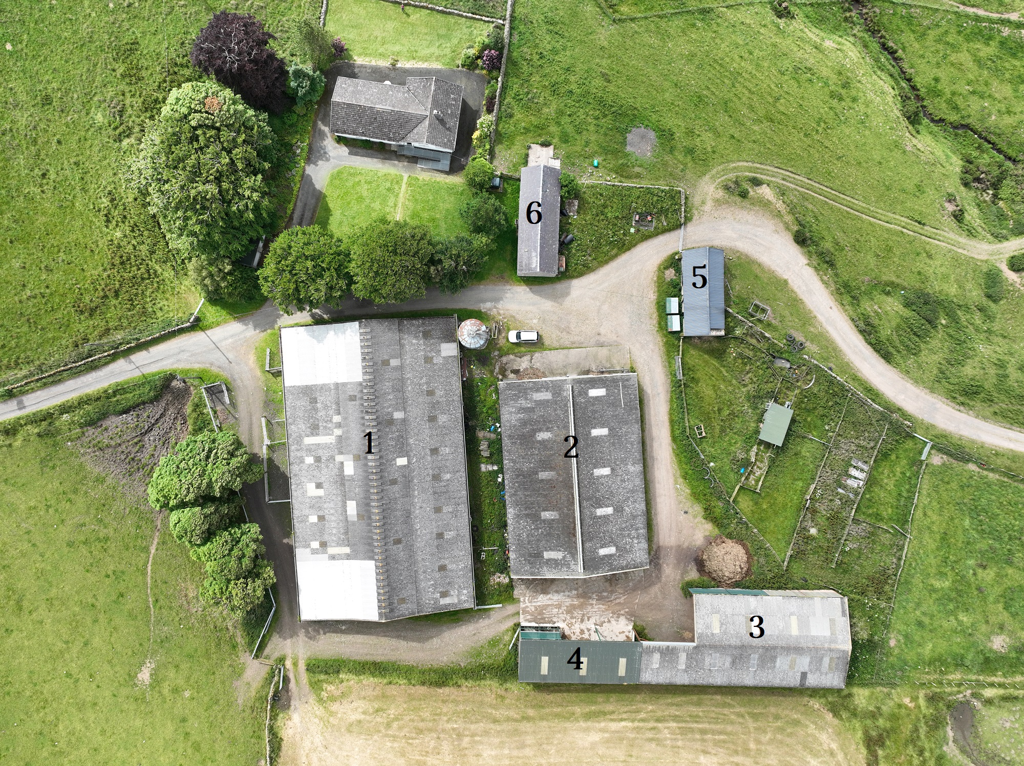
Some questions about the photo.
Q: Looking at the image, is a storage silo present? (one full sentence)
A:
Yes, there's a storage silo here.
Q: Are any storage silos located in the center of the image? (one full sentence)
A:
Yes, in the center of the image there is a storage silo.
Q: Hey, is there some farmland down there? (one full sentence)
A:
Yes, there's farmland in this view.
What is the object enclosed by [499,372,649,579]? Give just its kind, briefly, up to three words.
barn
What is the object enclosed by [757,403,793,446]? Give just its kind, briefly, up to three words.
shed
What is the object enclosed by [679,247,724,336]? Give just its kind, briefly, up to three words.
shed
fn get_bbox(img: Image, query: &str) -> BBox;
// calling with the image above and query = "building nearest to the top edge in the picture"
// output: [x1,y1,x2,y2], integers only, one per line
[330,76,463,172]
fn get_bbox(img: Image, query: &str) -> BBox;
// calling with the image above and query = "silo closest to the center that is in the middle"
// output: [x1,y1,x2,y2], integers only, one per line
[458,319,493,350]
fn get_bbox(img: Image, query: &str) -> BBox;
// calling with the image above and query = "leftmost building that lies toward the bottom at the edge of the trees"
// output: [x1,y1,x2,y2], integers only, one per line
[280,314,476,623]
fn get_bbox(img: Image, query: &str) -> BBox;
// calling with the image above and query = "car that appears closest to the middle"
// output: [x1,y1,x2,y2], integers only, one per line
[509,330,538,343]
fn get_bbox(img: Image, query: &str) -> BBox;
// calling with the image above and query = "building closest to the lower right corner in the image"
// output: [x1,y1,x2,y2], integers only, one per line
[635,589,853,690]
